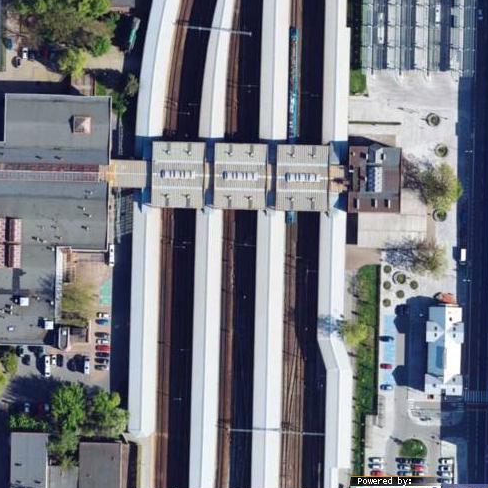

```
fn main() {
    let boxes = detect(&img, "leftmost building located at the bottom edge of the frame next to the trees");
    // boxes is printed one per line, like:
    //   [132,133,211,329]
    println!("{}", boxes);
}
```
[10,433,48,488]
